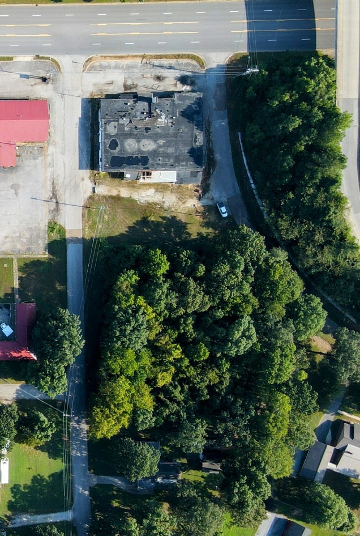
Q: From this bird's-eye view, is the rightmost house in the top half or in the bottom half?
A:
bottom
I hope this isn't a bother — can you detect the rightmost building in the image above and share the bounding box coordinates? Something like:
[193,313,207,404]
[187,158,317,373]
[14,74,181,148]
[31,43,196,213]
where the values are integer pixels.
[328,423,360,478]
